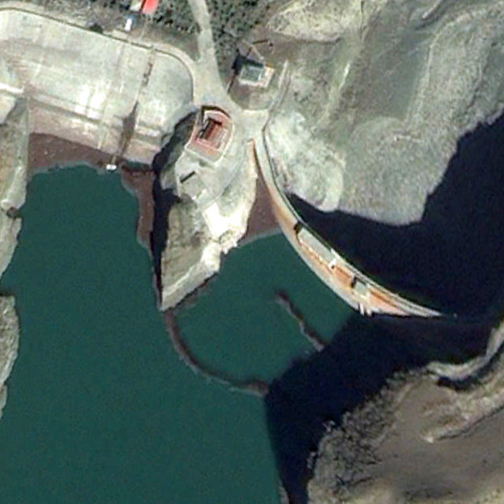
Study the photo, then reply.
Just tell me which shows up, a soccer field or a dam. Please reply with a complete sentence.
The one in the frame is a dam.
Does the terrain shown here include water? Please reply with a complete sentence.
Yes, the picture does contain water.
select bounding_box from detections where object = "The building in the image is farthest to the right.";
[240,66,264,82]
